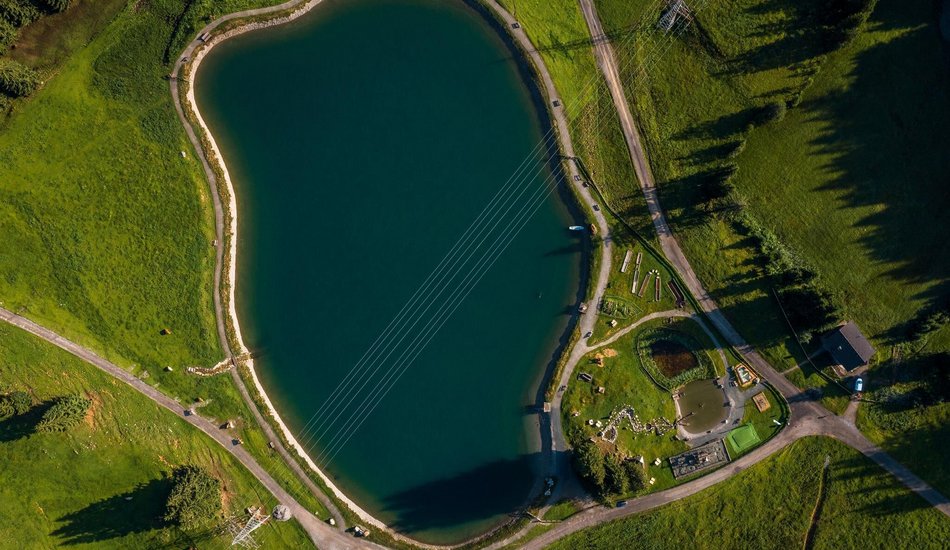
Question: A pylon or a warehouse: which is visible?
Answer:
pylon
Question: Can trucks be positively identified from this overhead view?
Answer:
No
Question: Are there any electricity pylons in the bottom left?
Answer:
Yes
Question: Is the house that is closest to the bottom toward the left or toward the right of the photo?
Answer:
right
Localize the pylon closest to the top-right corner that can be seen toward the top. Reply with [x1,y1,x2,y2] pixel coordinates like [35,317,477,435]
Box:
[657,0,700,36]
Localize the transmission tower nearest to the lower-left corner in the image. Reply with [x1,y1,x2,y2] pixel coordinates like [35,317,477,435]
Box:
[228,502,274,548]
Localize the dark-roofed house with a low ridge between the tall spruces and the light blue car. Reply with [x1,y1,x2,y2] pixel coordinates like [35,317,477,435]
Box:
[821,320,875,373]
